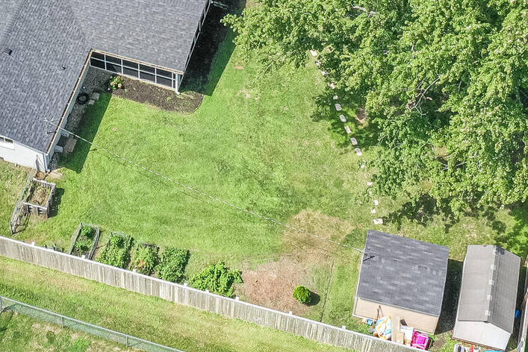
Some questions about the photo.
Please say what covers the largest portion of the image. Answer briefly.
grass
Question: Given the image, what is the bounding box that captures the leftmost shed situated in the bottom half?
[354,233,449,333]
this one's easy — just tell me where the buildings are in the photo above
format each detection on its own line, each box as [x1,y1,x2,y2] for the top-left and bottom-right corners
[354,233,449,333]
[452,247,522,347]
[0,0,228,180]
